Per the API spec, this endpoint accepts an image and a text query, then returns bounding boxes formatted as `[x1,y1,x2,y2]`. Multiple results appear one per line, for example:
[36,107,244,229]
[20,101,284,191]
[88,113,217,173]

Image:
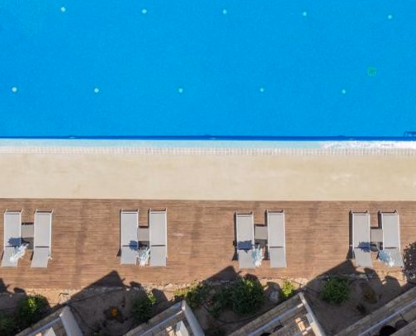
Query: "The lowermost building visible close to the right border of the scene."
[326,282,416,336]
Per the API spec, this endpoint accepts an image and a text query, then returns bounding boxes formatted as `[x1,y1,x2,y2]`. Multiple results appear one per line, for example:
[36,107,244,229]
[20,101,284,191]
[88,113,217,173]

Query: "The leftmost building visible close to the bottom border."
[6,299,81,336]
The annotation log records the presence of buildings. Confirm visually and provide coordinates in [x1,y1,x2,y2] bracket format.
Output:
[106,293,199,336]
[6,299,81,336]
[326,282,416,336]
[218,290,321,336]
